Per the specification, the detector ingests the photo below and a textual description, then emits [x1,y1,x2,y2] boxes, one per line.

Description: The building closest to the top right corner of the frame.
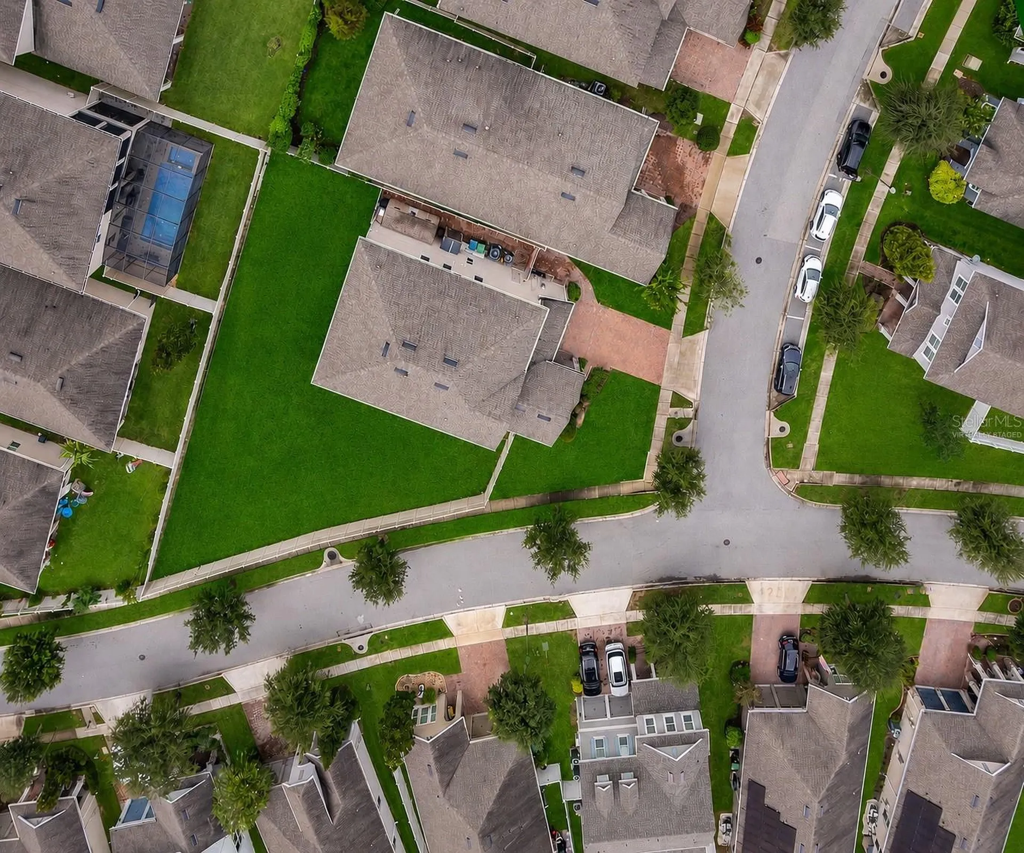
[991,27,1024,64]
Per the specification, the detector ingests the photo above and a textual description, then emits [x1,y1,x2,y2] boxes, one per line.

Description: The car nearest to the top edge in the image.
[836,118,875,181]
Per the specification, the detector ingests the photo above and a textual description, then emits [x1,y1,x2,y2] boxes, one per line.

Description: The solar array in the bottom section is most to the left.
[741,781,793,853]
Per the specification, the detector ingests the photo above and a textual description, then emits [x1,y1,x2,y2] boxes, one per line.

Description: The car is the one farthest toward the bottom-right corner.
[775,632,802,683]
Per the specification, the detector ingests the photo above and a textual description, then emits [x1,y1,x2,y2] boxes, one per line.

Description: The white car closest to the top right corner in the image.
[810,188,845,243]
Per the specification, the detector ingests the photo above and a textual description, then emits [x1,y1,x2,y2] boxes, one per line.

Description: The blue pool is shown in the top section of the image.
[117,130,202,270]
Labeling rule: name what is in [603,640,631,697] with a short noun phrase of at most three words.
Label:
car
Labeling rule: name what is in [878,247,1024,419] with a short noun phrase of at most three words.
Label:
house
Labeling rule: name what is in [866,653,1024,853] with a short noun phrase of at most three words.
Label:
house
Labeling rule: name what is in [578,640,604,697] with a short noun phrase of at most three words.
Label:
car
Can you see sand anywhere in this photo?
No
